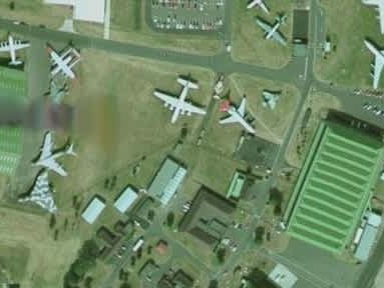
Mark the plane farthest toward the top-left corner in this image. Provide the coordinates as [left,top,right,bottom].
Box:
[0,37,31,66]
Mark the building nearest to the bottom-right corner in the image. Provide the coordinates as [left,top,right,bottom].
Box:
[355,224,378,263]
